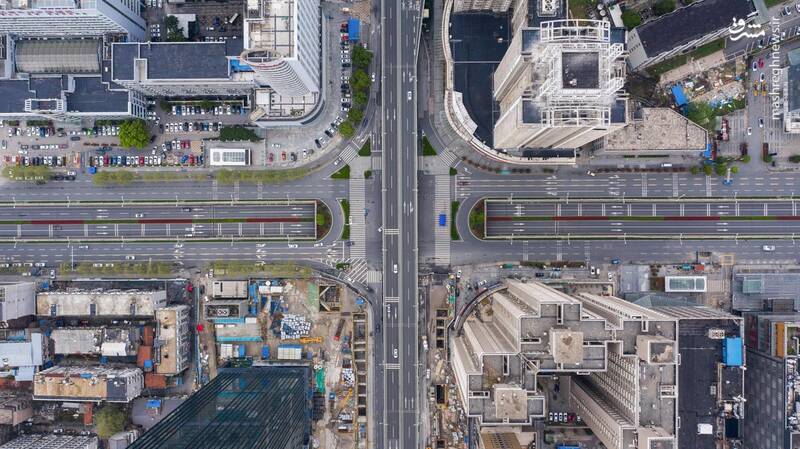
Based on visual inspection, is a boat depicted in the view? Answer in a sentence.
No, I can't see a single boat in this photo.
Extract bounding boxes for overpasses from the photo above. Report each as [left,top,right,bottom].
[381,0,424,449]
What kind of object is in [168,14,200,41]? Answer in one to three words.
shed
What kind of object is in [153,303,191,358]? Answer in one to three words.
building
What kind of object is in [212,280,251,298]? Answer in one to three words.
building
